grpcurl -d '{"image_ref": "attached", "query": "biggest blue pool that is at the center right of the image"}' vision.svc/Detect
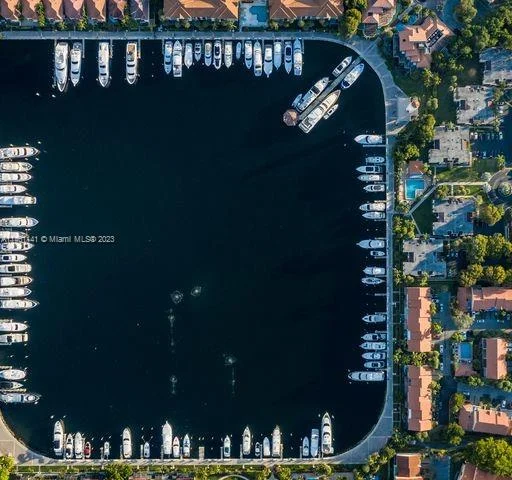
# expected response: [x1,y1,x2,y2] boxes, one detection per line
[405,179,424,199]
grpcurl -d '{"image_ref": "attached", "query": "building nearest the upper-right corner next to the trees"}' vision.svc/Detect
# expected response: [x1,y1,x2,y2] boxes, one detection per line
[475,46,512,88]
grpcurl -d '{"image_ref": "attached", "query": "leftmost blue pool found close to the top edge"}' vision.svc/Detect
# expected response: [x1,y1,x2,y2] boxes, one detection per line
[252,6,267,22]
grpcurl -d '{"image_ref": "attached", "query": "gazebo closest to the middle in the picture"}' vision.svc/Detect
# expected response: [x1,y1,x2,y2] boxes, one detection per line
[284,108,298,124]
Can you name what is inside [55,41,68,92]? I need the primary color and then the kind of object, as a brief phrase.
white boat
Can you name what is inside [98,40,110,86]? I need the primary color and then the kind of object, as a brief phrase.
white boat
